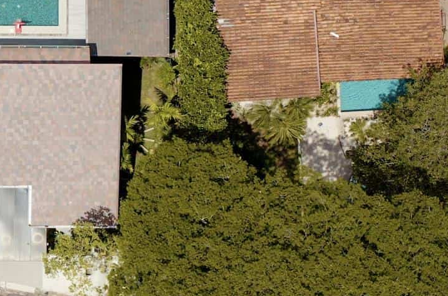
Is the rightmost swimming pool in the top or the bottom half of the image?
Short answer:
top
